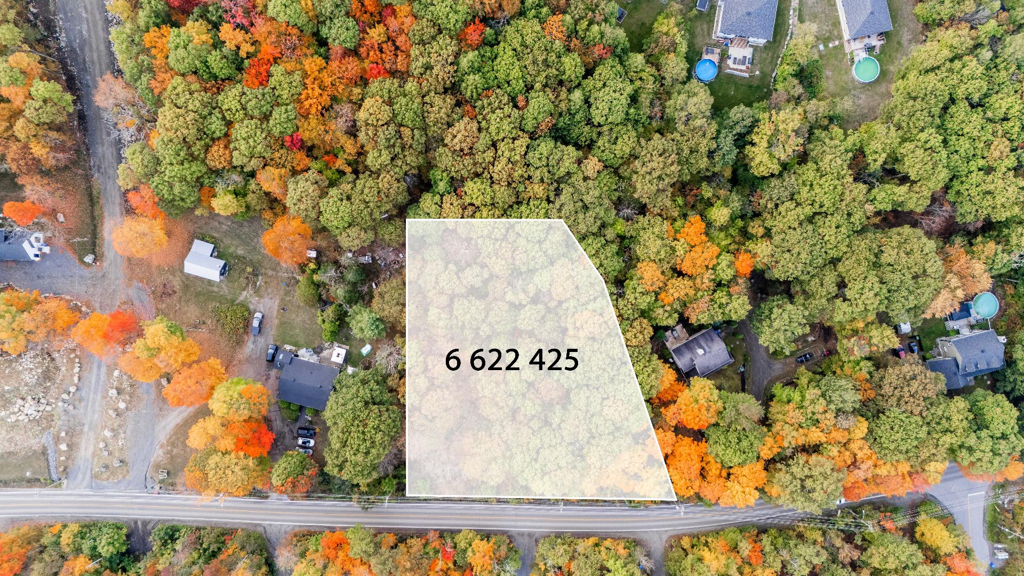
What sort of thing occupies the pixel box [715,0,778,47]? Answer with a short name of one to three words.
house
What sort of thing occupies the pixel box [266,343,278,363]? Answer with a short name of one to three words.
vehicle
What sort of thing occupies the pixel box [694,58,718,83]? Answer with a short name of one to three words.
swimming pool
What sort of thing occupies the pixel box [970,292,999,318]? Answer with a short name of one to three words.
swimming pool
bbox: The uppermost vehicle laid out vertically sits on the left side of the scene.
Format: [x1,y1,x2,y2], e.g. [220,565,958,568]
[251,313,264,335]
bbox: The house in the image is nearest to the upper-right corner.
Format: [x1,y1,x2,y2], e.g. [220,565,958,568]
[835,0,893,41]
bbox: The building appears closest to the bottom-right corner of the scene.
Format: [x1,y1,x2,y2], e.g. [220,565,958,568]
[922,329,1017,391]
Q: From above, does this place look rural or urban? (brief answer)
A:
rural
